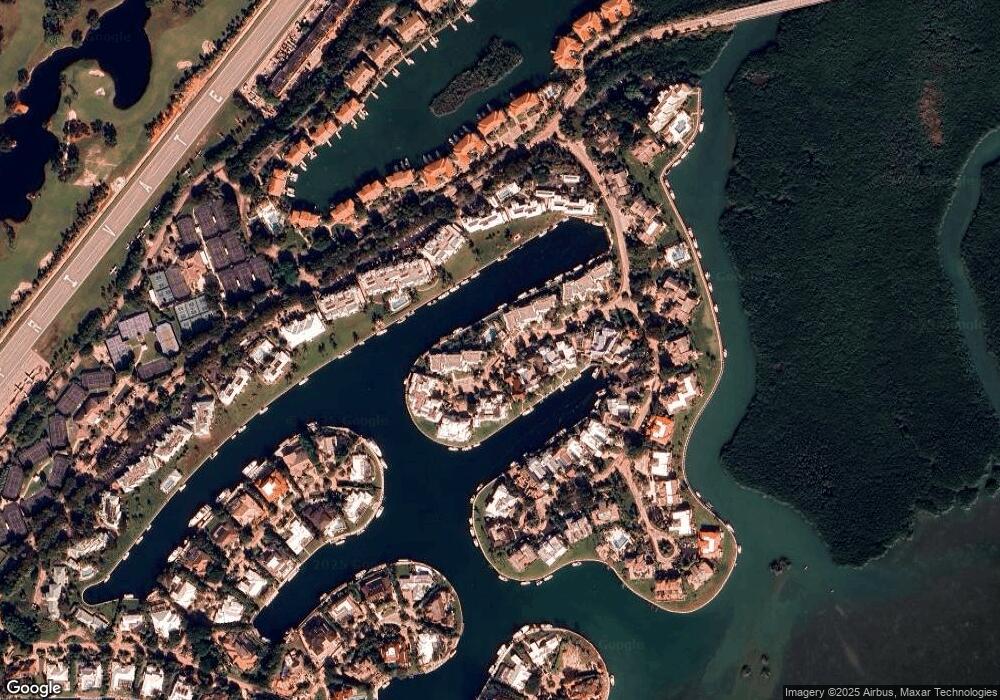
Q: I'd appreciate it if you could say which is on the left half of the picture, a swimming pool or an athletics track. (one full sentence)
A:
It is a swimming pool that can be seen on the left half of the picture.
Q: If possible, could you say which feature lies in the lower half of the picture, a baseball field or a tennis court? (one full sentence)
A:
The one visible in the lower half of the picture is a tennis court.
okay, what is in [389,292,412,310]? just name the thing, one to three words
swimming pool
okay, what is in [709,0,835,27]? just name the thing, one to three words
bridge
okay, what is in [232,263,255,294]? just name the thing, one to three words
tennis court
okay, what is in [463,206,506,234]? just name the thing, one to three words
building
